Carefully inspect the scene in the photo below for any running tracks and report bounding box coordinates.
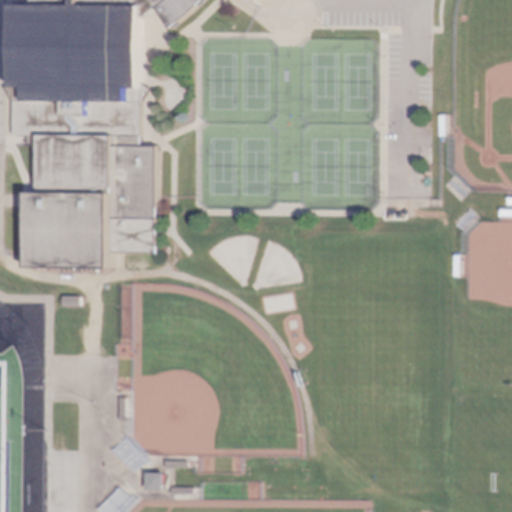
[0,304,48,512]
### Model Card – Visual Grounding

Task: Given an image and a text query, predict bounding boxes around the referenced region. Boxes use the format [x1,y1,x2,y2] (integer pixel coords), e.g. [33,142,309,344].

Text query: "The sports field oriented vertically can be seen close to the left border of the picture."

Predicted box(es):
[0,347,22,512]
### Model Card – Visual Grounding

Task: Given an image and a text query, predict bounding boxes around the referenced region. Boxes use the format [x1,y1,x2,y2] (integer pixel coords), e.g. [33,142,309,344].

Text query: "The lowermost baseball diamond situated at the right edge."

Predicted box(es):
[462,221,512,308]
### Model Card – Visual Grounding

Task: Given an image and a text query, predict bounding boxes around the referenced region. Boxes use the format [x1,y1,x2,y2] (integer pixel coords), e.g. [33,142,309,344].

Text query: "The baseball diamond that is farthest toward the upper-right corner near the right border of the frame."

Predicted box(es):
[448,62,512,190]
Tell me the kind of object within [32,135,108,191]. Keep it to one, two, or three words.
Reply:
building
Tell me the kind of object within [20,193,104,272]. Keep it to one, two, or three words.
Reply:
building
